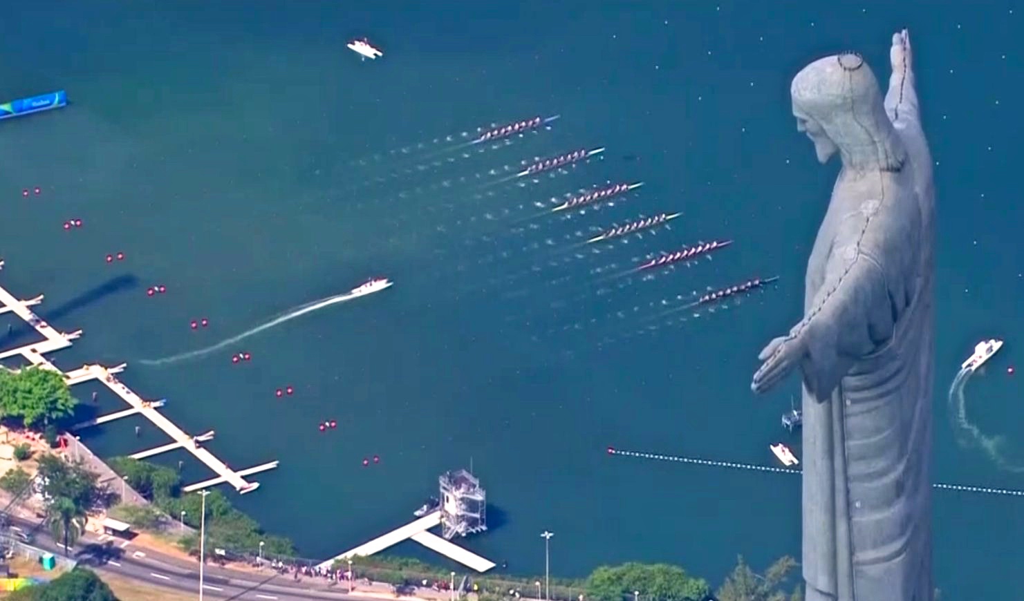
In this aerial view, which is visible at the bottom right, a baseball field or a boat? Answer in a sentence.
What appears at the bottom right is a boat.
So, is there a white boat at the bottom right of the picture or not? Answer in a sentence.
Yes, there is a white boat at the bottom right of the picture.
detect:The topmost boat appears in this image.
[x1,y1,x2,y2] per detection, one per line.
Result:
[344,38,385,60]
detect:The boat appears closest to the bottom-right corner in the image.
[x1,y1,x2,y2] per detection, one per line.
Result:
[957,335,1006,372]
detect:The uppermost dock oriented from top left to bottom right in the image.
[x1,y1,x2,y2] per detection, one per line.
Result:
[0,281,66,340]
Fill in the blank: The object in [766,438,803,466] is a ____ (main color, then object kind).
white boat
